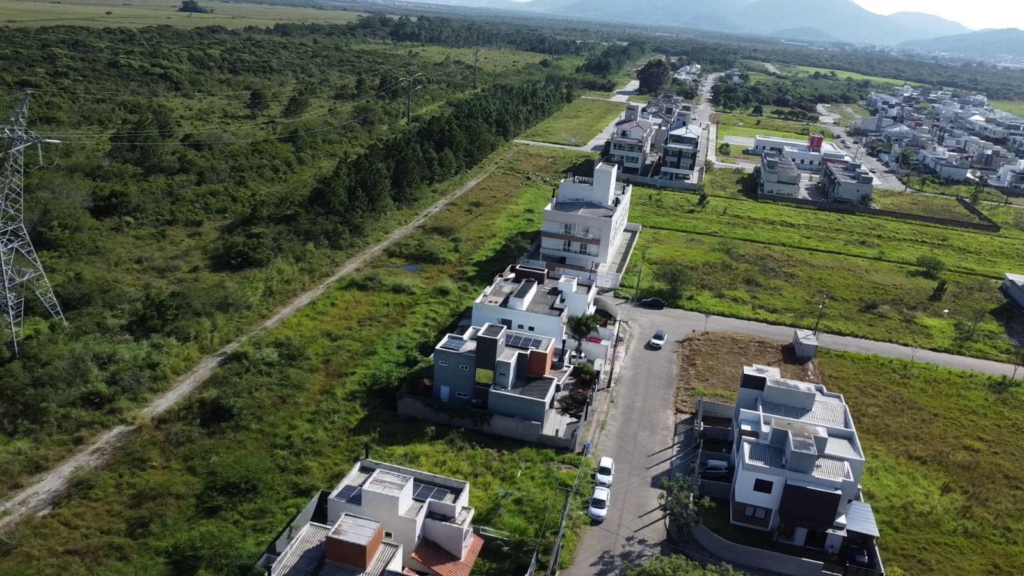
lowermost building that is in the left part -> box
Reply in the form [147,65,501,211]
[268,514,405,576]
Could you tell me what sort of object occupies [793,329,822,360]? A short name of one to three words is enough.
shed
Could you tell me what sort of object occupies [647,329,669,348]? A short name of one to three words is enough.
car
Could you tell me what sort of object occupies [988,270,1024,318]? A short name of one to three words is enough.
building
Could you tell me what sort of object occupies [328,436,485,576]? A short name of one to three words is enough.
house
